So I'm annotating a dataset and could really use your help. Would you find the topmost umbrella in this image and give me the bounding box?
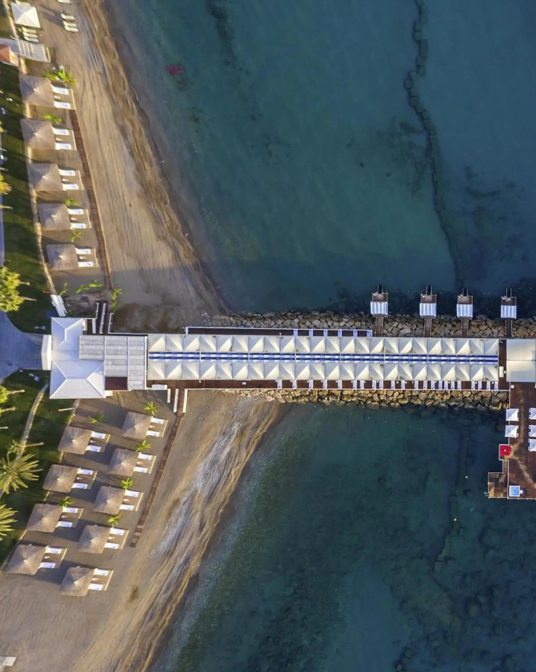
[11,2,40,28]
